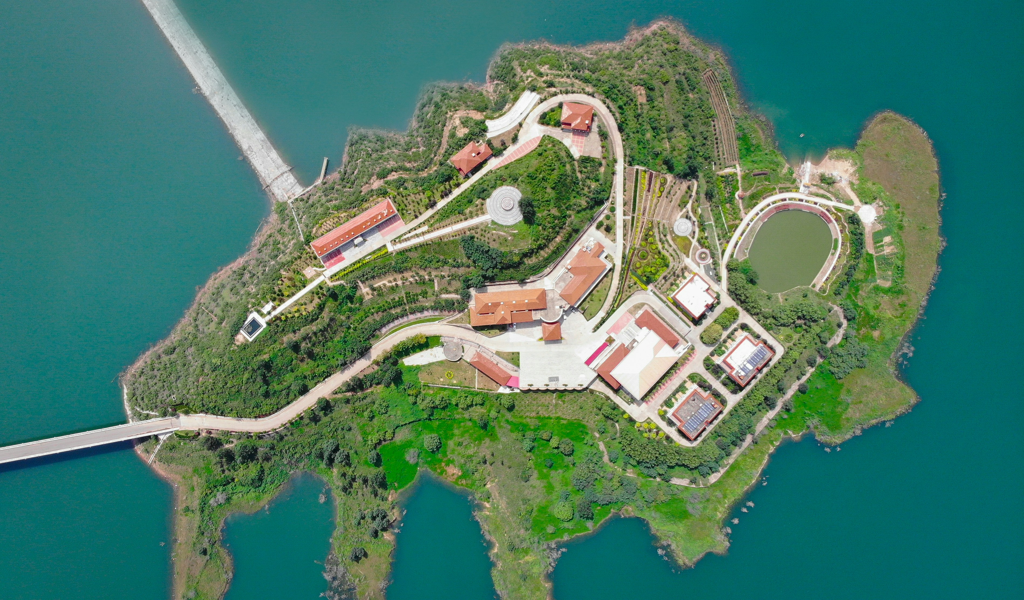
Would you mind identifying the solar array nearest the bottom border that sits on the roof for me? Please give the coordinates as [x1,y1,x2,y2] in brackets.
[683,403,714,434]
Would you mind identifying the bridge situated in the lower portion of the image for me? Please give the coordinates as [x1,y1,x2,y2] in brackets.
[0,416,179,463]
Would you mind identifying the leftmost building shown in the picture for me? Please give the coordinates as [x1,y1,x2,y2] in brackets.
[310,198,397,257]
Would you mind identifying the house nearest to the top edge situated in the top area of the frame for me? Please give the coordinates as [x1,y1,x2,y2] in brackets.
[561,102,593,132]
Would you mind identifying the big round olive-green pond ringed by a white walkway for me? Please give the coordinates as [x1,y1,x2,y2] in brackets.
[747,208,834,294]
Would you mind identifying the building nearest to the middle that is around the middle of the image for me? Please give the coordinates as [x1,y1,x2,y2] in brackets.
[470,288,570,326]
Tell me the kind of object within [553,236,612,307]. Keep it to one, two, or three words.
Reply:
building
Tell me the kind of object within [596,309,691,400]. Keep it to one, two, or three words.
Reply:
building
